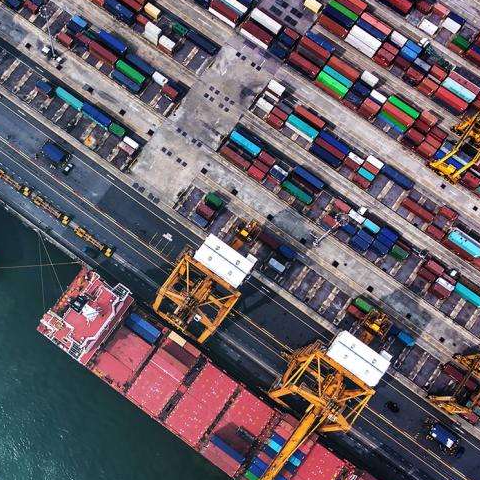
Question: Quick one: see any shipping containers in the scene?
Yes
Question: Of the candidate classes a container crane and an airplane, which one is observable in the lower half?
container crane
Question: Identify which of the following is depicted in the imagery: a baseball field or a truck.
truck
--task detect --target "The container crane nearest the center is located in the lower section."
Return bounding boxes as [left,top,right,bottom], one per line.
[151,233,259,345]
